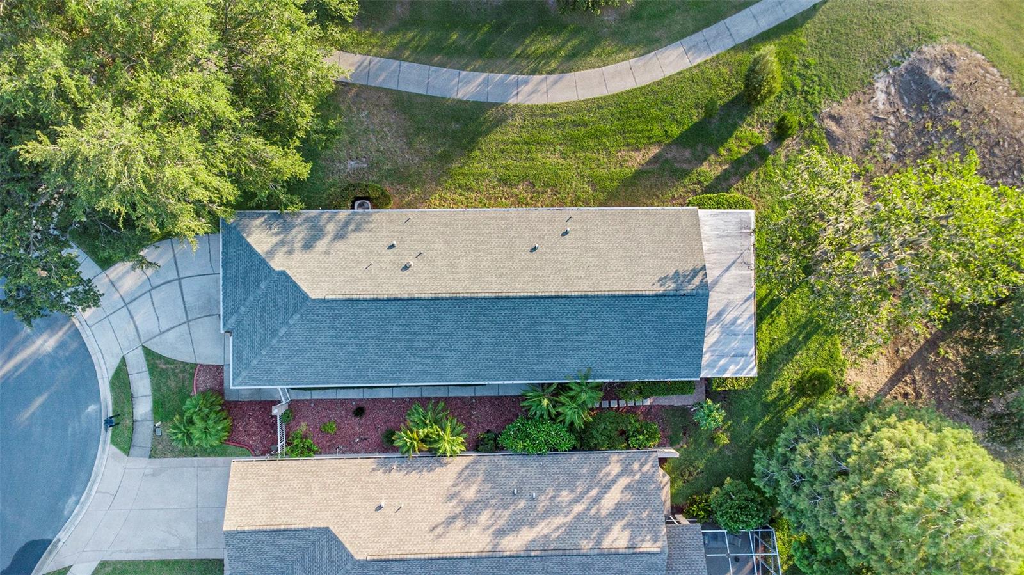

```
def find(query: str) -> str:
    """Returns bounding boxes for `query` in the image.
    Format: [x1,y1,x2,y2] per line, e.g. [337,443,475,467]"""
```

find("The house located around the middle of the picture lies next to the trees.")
[217,204,759,390]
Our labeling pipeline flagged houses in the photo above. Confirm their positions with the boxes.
[217,204,759,390]
[223,448,710,575]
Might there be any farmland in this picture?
No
